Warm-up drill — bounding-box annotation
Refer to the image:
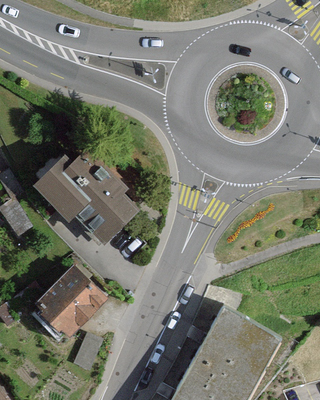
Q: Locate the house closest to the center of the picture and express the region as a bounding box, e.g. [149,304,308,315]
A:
[34,154,140,245]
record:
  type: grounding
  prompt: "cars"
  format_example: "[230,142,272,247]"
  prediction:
[231,44,252,56]
[282,68,302,85]
[60,24,81,38]
[180,284,195,304]
[143,38,164,48]
[286,388,300,400]
[123,238,144,258]
[151,344,166,364]
[168,310,182,329]
[112,230,132,249]
[2,4,20,18]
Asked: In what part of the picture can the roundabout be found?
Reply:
top right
